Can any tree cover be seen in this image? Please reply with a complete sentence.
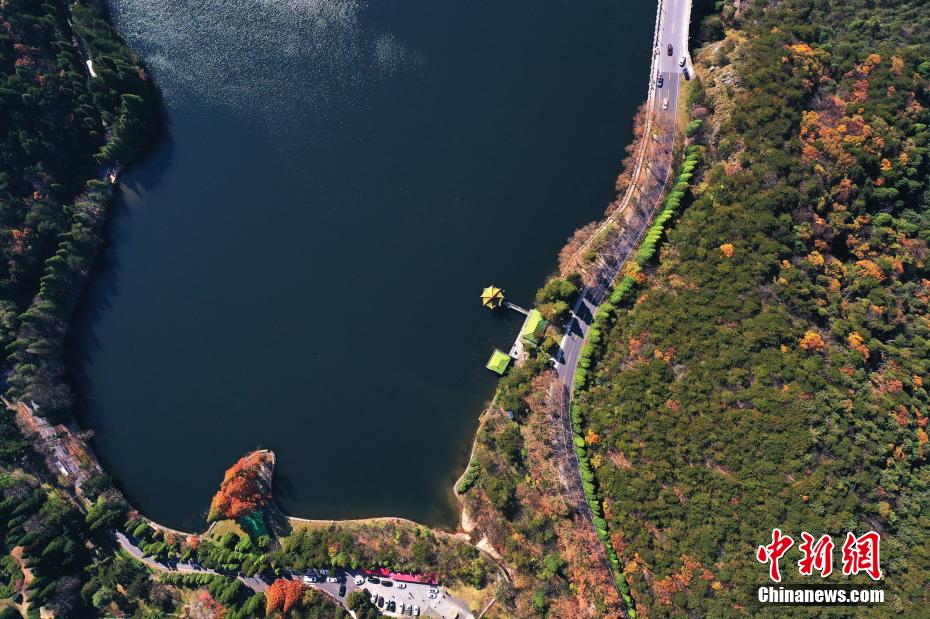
Yes, there is tree cover in the image.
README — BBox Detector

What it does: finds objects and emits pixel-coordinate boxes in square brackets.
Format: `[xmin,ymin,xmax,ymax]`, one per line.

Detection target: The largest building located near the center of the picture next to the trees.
[520,310,549,345]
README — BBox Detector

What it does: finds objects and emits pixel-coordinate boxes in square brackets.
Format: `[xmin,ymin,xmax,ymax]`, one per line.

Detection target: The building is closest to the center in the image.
[480,285,505,309]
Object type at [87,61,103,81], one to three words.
vehicle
